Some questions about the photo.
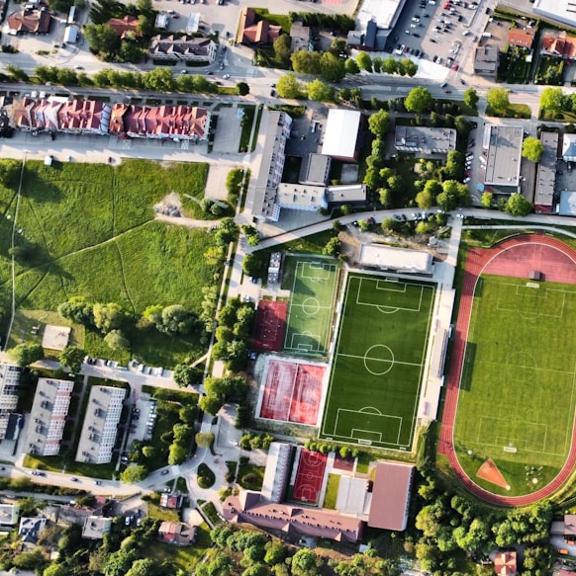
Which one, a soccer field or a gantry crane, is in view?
soccer field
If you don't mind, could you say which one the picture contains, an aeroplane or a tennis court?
tennis court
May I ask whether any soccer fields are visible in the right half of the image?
Yes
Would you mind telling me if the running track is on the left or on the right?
right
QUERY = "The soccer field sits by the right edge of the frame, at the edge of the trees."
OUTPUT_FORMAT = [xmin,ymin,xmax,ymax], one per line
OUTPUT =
[456,274,576,501]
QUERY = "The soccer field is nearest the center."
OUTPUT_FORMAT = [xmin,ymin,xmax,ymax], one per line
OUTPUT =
[278,256,344,360]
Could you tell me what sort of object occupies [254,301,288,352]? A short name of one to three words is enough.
sports court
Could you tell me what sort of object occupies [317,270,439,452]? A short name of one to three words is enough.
soccer field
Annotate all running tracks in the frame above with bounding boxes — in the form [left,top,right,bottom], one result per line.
[442,235,576,510]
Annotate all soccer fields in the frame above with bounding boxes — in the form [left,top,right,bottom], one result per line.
[278,256,344,360]
[456,274,576,501]
[317,270,439,452]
